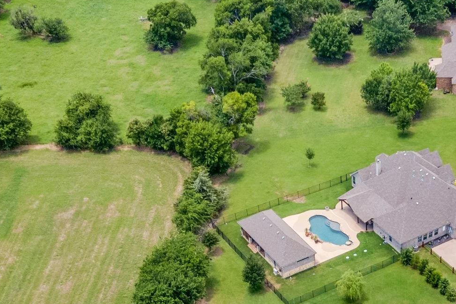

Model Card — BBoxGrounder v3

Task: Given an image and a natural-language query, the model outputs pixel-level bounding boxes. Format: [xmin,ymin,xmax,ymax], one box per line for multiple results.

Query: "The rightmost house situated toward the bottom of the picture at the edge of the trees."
[336,148,456,252]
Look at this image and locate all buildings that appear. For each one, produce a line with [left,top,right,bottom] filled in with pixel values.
[435,24,456,95]
[336,148,456,252]
[237,209,317,279]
